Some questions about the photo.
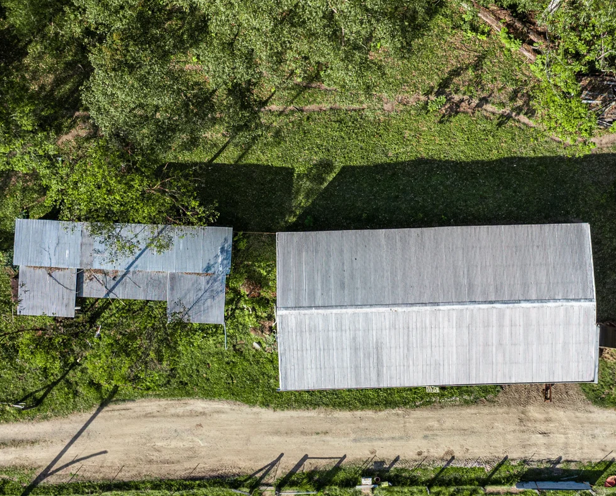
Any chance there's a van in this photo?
No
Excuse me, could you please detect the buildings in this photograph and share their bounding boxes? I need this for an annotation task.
[274,223,601,392]
[14,218,235,350]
